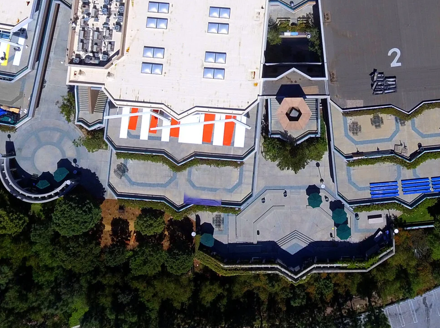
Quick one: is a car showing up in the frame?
No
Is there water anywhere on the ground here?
No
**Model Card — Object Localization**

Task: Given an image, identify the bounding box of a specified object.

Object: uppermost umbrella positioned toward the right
[304,190,325,211]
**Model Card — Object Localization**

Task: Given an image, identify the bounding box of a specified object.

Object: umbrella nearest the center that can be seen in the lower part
[195,230,217,252]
